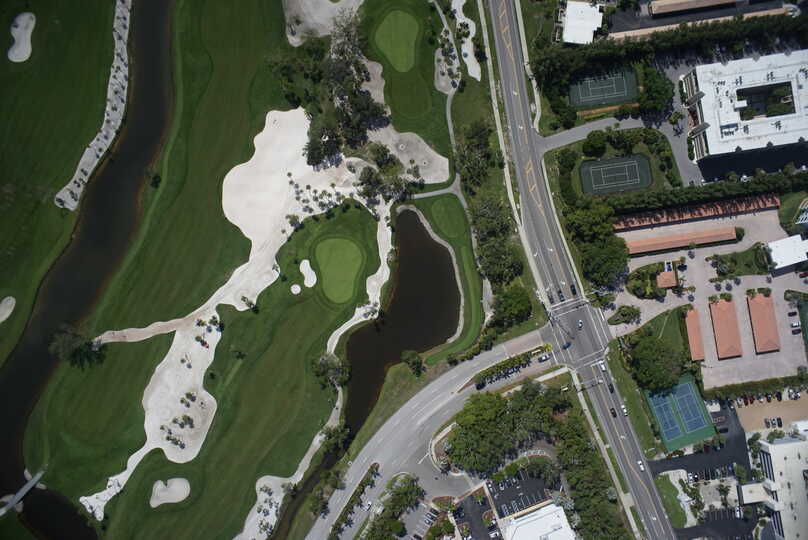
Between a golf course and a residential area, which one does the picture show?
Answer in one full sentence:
This looks like a golf course.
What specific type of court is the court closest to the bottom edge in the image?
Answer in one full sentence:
Looking closely, the court closest to the bottom edge is a tennis court.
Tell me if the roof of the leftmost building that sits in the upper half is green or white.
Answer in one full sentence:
The color of the roof of the leftmost building that sits in the upper half is white.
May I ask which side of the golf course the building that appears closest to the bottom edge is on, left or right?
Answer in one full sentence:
To the right of the golf course is where the building that appears closest to the bottom edge appears.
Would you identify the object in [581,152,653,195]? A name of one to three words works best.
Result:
tennis court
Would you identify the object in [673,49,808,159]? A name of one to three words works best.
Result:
building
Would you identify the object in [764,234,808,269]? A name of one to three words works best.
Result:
building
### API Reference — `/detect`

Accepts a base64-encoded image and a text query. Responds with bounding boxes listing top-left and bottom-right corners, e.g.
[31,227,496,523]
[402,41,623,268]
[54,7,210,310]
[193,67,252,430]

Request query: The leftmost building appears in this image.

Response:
[504,499,576,540]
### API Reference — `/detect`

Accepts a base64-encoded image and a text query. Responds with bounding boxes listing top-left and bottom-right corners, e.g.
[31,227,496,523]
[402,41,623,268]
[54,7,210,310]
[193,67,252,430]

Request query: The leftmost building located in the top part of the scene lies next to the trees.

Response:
[555,1,604,46]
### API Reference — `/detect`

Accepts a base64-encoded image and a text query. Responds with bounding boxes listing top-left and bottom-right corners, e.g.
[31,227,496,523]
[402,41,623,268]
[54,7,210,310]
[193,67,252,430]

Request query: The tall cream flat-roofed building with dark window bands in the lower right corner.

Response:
[739,417,808,540]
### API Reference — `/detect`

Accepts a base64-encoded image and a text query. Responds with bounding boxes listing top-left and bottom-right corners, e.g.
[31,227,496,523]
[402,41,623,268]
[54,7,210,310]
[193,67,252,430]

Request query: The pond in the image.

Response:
[274,208,458,540]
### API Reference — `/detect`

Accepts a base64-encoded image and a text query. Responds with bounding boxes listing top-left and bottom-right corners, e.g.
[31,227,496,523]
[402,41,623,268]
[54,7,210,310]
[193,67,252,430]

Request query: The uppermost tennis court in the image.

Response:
[570,66,642,112]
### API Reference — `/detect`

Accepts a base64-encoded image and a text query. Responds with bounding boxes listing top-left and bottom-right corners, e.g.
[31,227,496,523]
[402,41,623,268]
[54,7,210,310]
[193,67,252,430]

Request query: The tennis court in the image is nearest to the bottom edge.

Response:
[645,374,720,454]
